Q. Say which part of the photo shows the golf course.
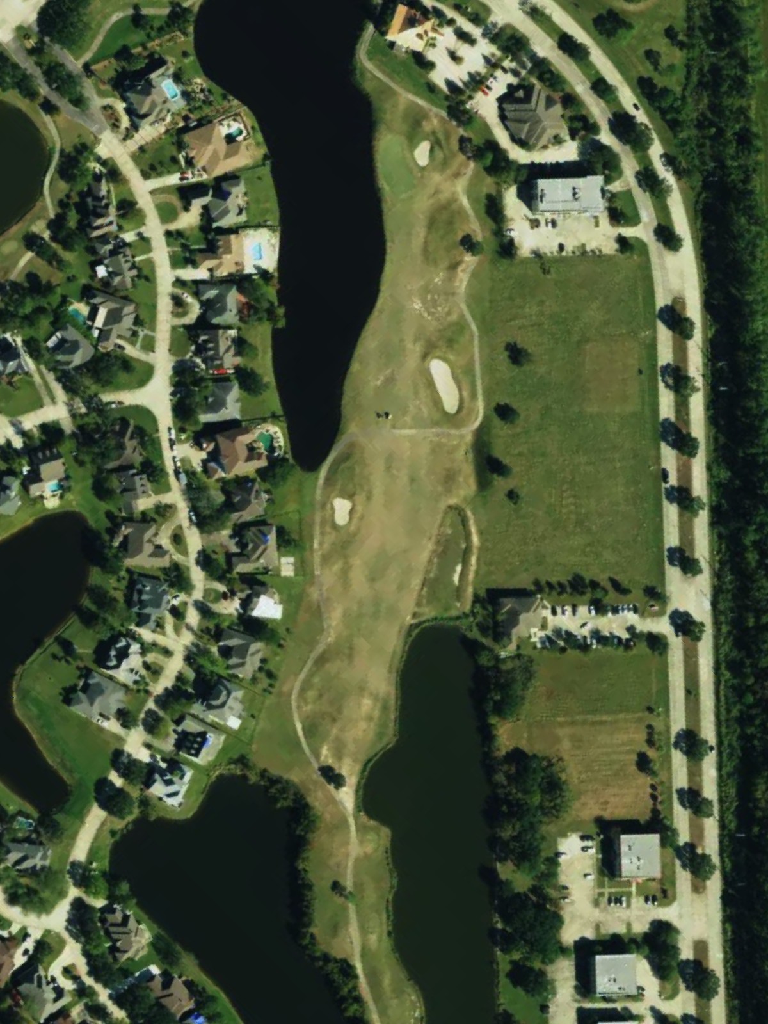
center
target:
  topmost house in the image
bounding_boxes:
[386,1,438,40]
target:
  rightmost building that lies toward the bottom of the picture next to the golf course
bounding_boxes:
[493,594,547,648]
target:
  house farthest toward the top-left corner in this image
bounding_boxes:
[121,70,171,132]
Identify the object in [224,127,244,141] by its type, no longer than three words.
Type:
swimming pool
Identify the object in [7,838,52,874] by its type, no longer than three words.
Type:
house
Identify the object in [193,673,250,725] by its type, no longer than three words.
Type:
house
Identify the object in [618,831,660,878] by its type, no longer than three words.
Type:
building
